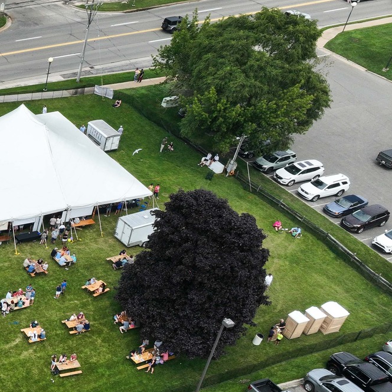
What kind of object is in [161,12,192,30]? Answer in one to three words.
car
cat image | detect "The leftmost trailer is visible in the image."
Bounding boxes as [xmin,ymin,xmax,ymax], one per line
[80,116,126,150]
